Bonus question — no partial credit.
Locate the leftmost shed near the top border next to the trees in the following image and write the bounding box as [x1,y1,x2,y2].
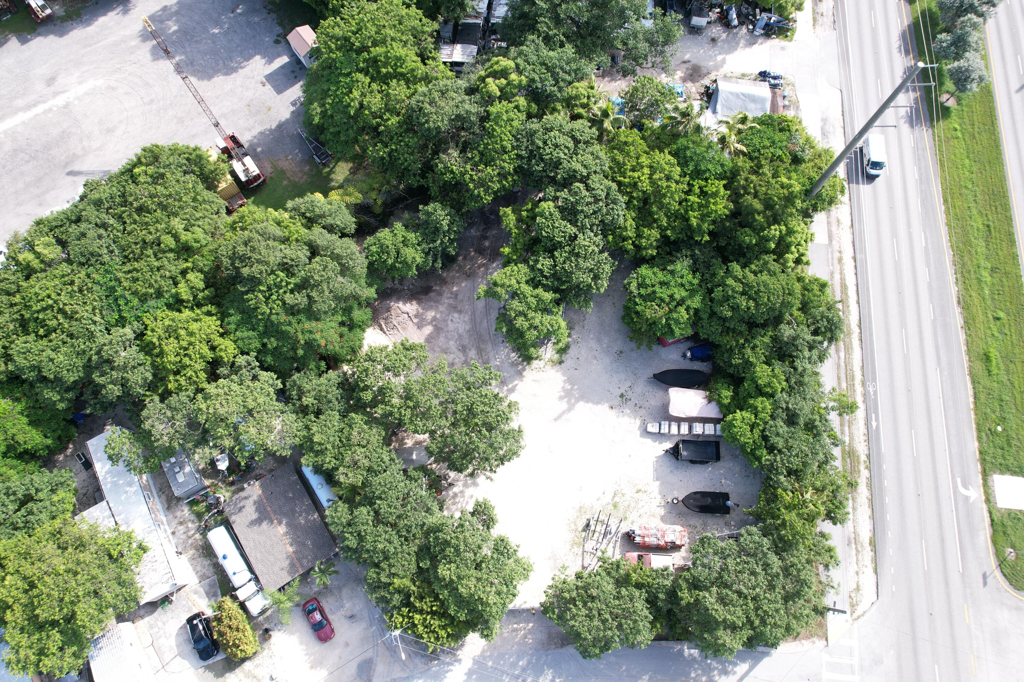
[287,24,324,68]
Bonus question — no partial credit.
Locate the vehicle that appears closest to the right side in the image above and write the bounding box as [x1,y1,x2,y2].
[857,131,888,181]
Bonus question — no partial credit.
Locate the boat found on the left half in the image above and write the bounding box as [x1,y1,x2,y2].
[215,454,230,478]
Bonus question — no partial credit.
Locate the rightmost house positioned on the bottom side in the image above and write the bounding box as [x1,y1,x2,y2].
[224,463,339,588]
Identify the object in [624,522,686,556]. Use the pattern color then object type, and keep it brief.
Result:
white trailer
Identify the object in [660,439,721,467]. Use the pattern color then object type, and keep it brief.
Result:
black trailer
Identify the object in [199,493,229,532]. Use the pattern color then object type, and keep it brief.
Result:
gray work vehicle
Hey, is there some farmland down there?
No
